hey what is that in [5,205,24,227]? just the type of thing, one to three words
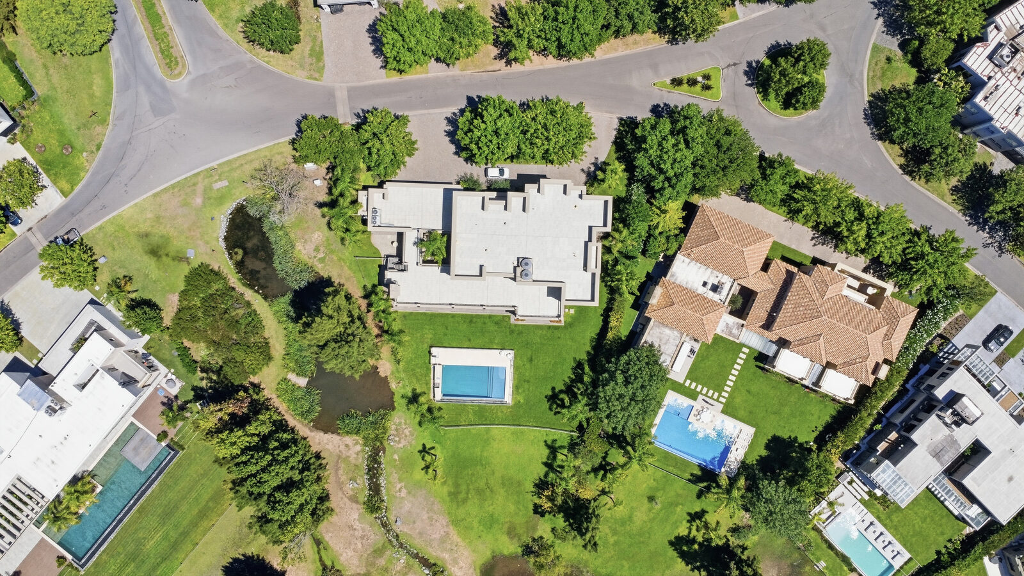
car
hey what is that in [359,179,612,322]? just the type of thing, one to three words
house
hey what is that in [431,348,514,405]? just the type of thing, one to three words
swimming pool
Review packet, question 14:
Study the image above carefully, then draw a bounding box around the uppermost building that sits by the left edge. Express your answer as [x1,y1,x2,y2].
[0,93,31,157]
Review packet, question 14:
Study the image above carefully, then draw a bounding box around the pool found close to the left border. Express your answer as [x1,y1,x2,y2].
[39,418,177,569]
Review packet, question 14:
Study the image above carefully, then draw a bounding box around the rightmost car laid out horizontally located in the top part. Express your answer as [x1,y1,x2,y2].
[485,167,509,179]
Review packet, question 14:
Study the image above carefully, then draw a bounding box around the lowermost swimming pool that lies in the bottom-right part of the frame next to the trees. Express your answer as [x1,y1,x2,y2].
[814,486,912,576]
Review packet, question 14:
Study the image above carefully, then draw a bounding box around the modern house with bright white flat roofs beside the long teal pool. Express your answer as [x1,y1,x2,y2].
[0,304,162,564]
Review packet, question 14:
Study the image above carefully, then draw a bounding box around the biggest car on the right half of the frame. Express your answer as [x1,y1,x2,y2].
[983,324,1012,351]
